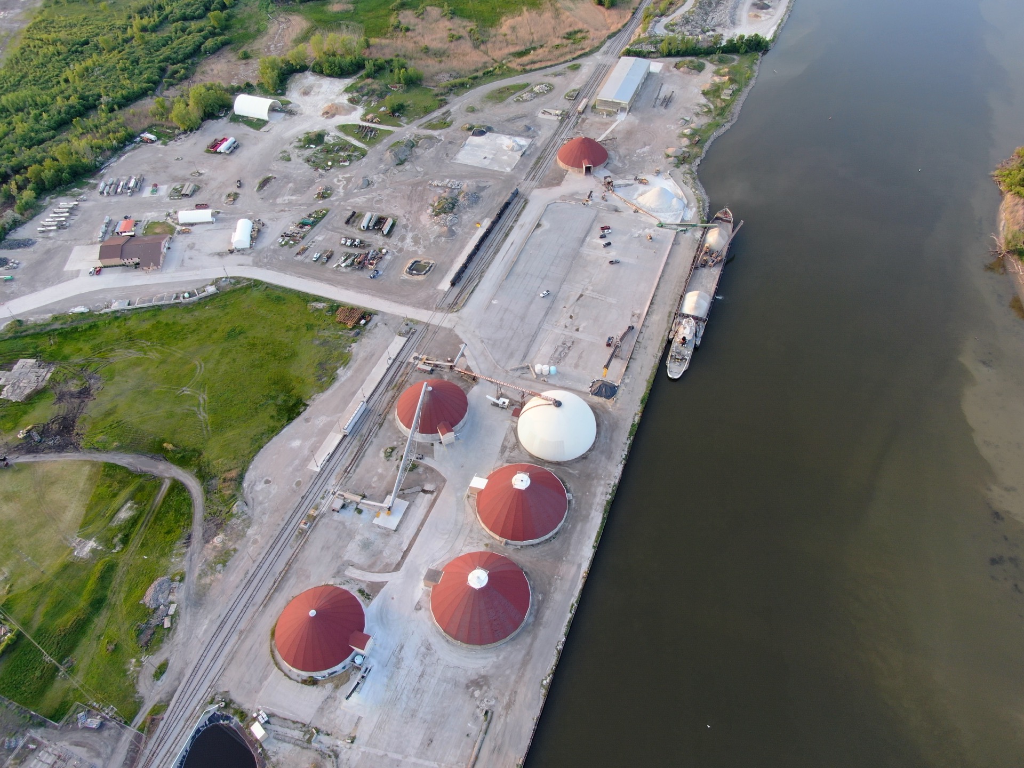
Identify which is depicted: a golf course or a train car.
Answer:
train car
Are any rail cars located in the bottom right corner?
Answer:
No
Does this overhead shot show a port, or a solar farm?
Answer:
port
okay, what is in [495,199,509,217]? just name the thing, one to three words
rail car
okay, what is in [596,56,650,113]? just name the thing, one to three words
building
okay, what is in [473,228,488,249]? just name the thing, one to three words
rail car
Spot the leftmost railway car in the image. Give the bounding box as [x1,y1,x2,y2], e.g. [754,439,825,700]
[340,395,367,432]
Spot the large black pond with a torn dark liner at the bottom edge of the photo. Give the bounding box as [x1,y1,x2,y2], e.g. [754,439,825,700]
[173,702,268,768]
